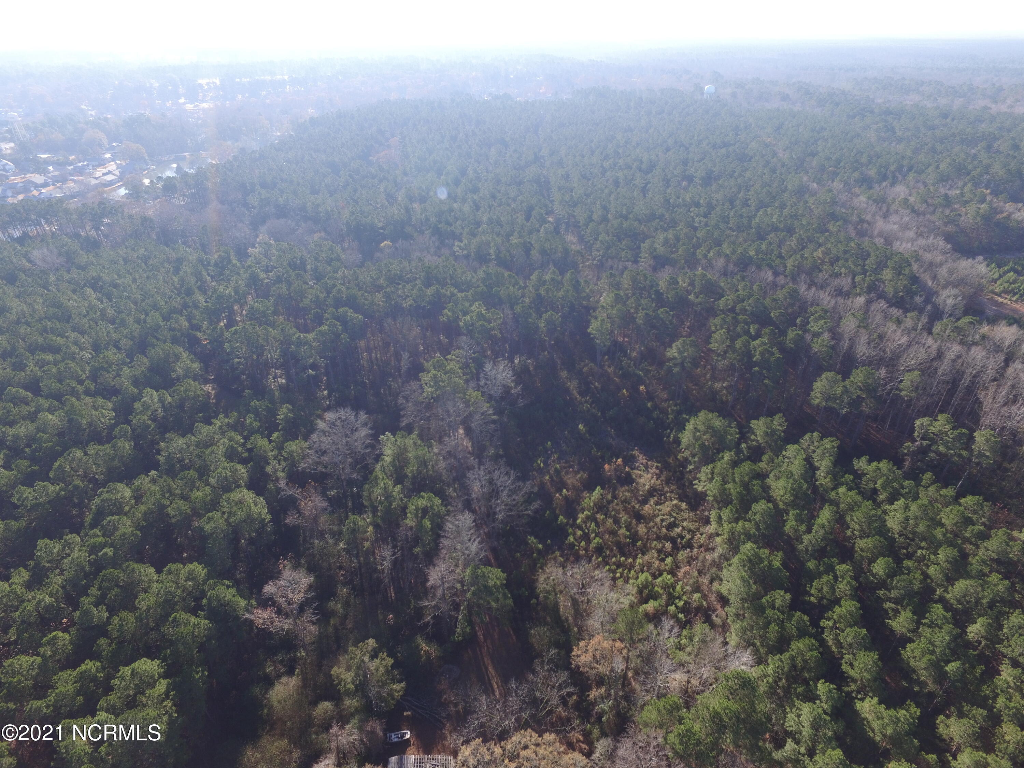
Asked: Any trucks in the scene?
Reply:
No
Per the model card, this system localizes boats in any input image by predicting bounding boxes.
[386,730,411,742]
